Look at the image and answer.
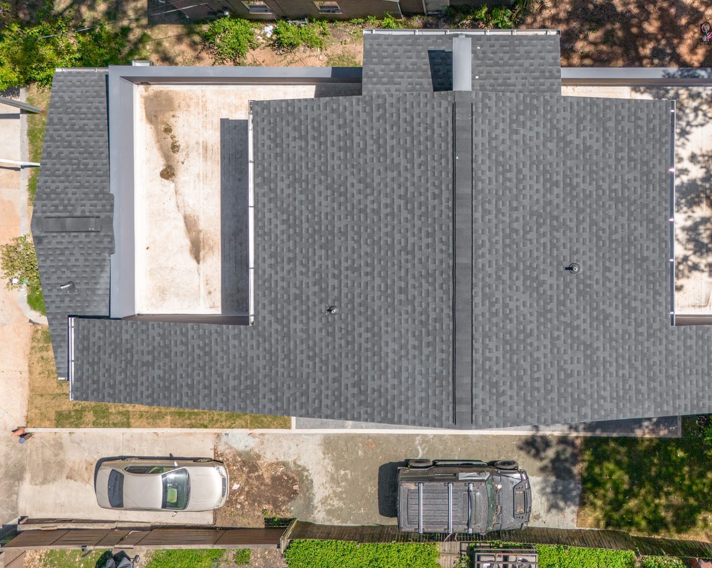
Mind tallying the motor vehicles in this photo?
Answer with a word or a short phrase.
2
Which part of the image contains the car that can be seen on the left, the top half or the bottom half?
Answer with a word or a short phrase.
bottom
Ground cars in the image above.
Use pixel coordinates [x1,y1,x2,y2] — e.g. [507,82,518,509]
[396,456,533,535]
[94,456,233,520]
